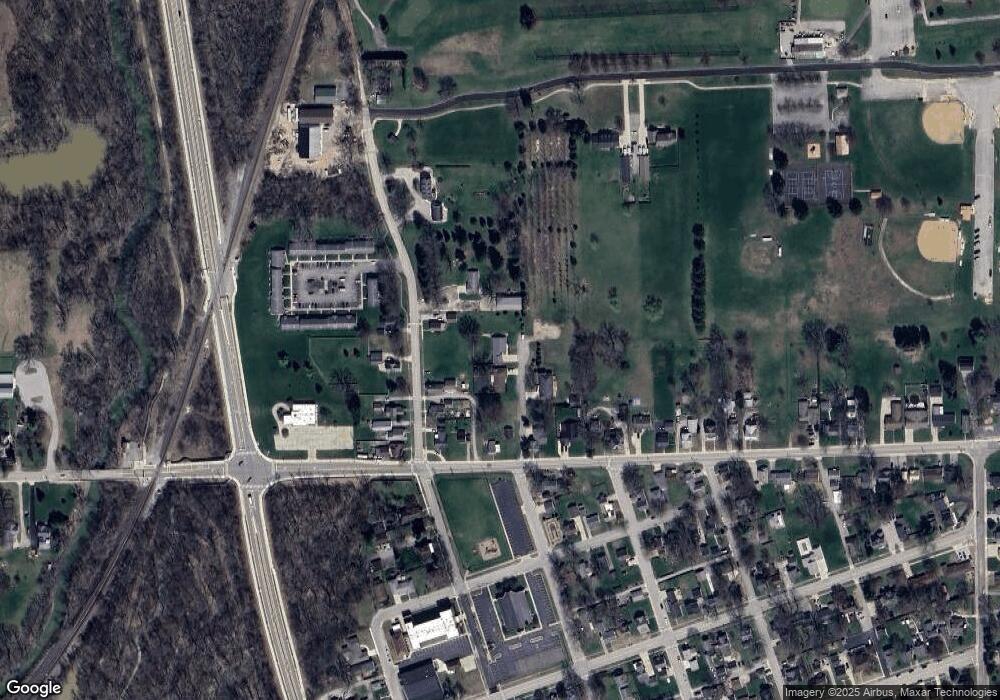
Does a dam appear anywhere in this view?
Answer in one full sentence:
No, no dam is visible in the scene.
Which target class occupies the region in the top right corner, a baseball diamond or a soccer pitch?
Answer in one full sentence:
The feature located in the top right corner is a baseball diamond.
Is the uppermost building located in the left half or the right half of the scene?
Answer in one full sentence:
It is on the right.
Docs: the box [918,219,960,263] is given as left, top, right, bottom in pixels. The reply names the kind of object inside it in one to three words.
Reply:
baseball field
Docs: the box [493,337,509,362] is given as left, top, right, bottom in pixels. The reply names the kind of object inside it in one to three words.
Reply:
house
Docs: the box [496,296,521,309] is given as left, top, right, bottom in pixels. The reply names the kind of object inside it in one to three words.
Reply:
barn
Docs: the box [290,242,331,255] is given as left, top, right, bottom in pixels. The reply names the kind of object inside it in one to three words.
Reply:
building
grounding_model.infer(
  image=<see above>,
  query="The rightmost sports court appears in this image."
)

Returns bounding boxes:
[783,164,853,207]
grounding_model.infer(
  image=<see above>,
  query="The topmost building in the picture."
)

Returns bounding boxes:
[792,37,823,57]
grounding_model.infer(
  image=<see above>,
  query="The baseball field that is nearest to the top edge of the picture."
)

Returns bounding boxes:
[922,101,966,144]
